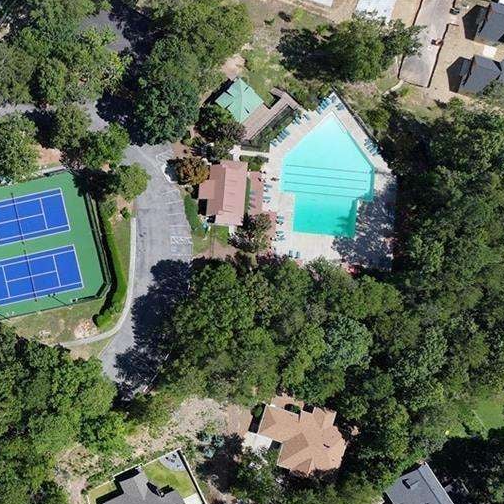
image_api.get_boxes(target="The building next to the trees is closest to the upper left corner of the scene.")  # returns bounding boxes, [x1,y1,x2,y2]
[215,78,263,122]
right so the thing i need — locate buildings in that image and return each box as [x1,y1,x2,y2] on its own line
[104,466,184,504]
[382,464,453,504]
[455,55,501,96]
[215,78,263,122]
[470,2,504,44]
[197,160,248,227]
[256,405,346,476]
